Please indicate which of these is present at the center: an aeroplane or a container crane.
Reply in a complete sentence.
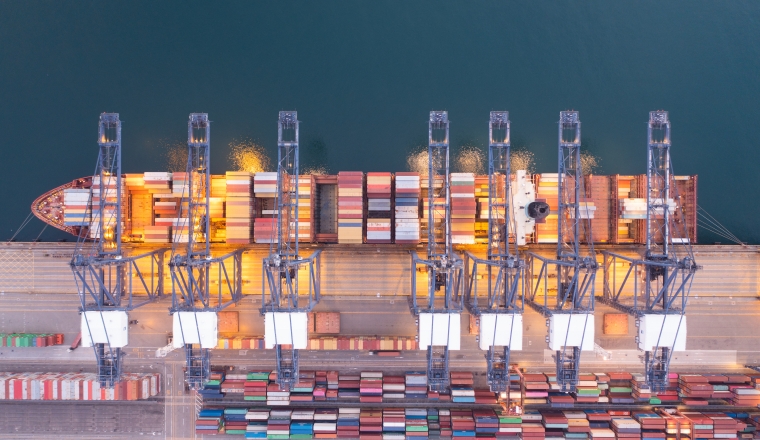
It is a container crane that can be seen at the center.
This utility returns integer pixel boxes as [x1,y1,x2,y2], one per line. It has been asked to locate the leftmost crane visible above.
[68,110,180,388]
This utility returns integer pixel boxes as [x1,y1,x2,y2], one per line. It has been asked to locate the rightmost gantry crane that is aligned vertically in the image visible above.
[591,110,700,388]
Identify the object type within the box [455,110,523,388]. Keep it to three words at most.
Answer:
container crane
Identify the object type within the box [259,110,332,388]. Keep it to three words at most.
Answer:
container crane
